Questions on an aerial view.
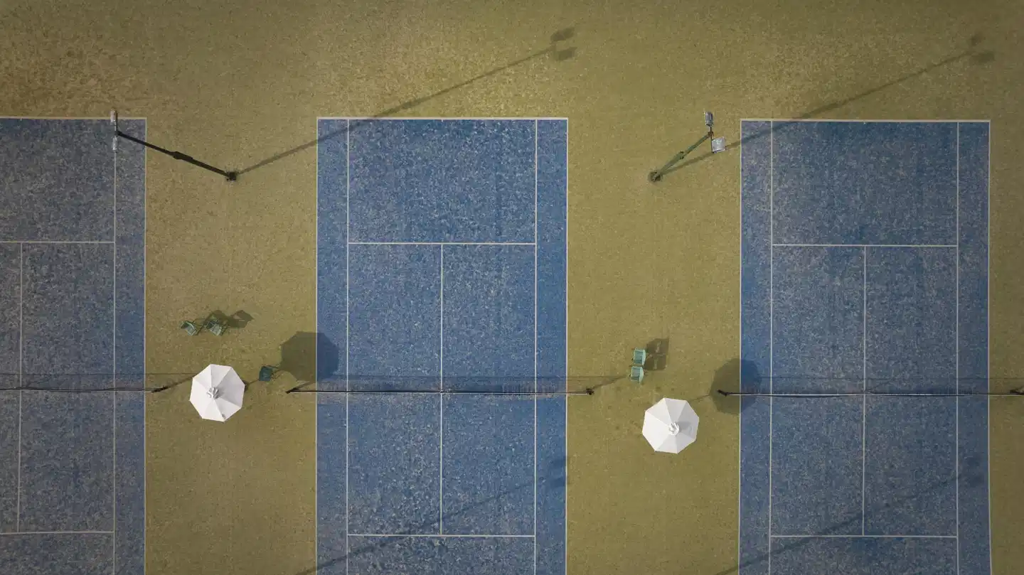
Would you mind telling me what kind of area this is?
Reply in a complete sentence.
This image shows a sports ground.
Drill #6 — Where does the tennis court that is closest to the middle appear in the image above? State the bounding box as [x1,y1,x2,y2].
[316,117,568,575]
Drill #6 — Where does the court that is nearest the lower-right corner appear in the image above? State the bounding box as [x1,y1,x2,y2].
[738,118,992,575]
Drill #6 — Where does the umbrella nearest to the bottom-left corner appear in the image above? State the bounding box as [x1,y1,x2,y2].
[190,365,245,420]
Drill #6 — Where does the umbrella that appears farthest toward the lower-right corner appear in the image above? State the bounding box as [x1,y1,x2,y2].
[643,398,699,453]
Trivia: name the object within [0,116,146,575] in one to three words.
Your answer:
tennis court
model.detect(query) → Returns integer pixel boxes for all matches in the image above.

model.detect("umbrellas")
[190,365,245,420]
[643,398,699,453]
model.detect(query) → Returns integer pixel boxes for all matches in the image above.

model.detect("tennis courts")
[0,116,146,575]
[738,118,992,575]
[316,117,568,575]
